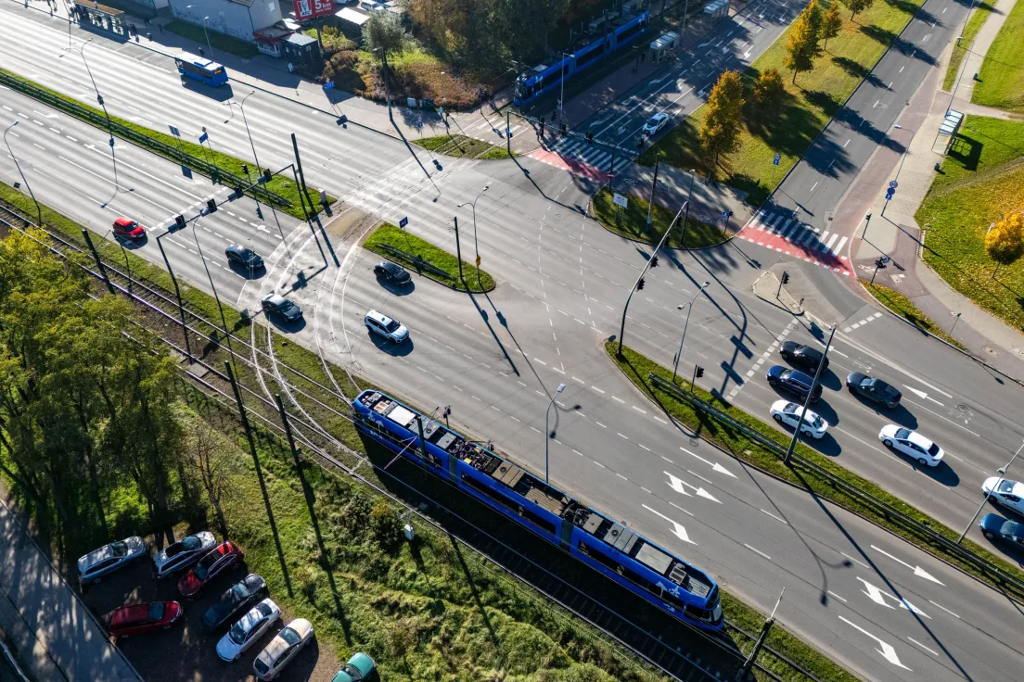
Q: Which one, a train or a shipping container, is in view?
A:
train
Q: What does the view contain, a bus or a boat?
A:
bus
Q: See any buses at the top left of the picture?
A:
Yes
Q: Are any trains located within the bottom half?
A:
Yes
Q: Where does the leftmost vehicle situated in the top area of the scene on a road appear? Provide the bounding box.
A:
[112,218,145,241]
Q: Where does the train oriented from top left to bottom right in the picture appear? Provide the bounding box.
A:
[358,393,726,637]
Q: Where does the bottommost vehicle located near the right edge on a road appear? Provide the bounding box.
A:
[975,512,1024,557]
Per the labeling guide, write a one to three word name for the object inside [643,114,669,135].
car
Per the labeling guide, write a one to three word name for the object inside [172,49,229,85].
bus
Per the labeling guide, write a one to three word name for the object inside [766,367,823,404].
car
